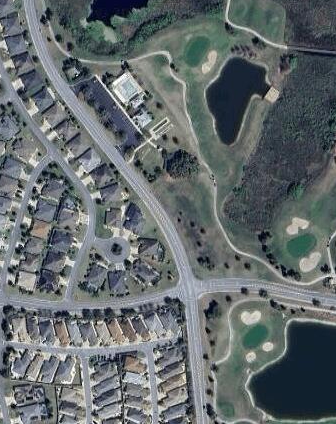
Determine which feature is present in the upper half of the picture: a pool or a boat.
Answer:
pool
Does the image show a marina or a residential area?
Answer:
residential area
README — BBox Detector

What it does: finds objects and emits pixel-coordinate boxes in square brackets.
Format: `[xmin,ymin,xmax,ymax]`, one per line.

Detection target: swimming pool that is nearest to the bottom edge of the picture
[114,72,145,105]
